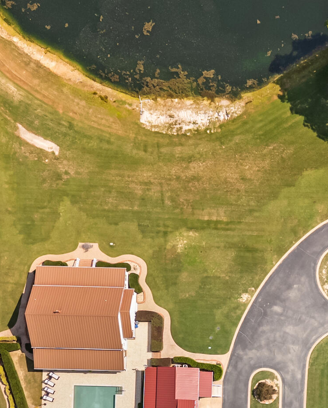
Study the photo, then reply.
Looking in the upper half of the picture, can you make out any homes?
No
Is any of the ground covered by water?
Yes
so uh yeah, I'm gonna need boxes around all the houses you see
[25,266,139,371]
[143,367,214,408]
